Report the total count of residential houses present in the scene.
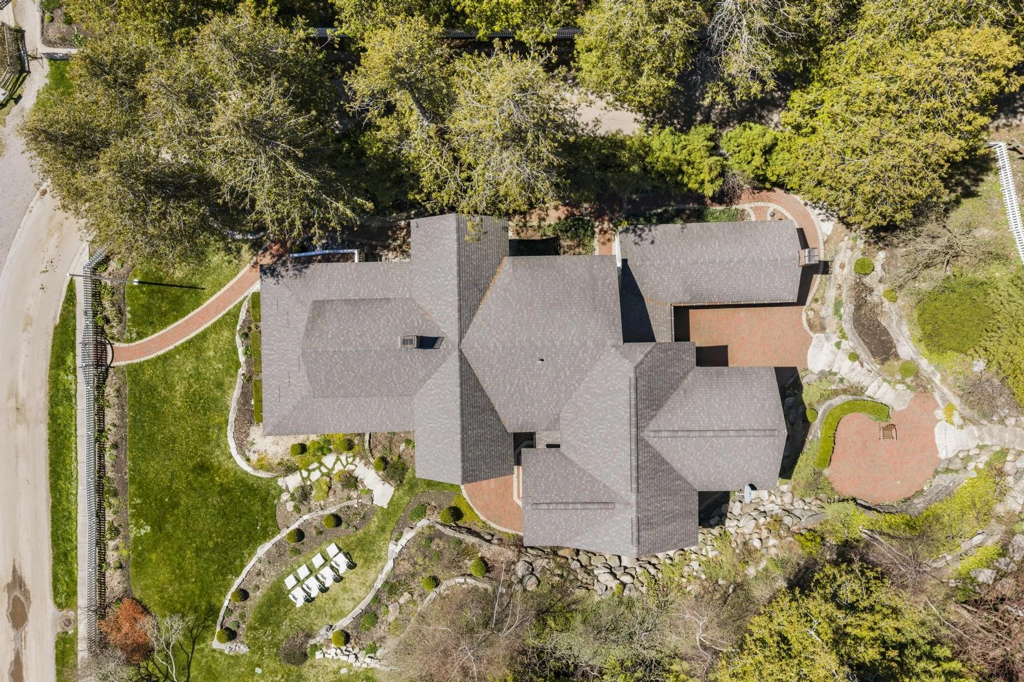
1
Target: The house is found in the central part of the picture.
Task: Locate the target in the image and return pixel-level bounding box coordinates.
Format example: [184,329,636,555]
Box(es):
[259,214,819,557]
